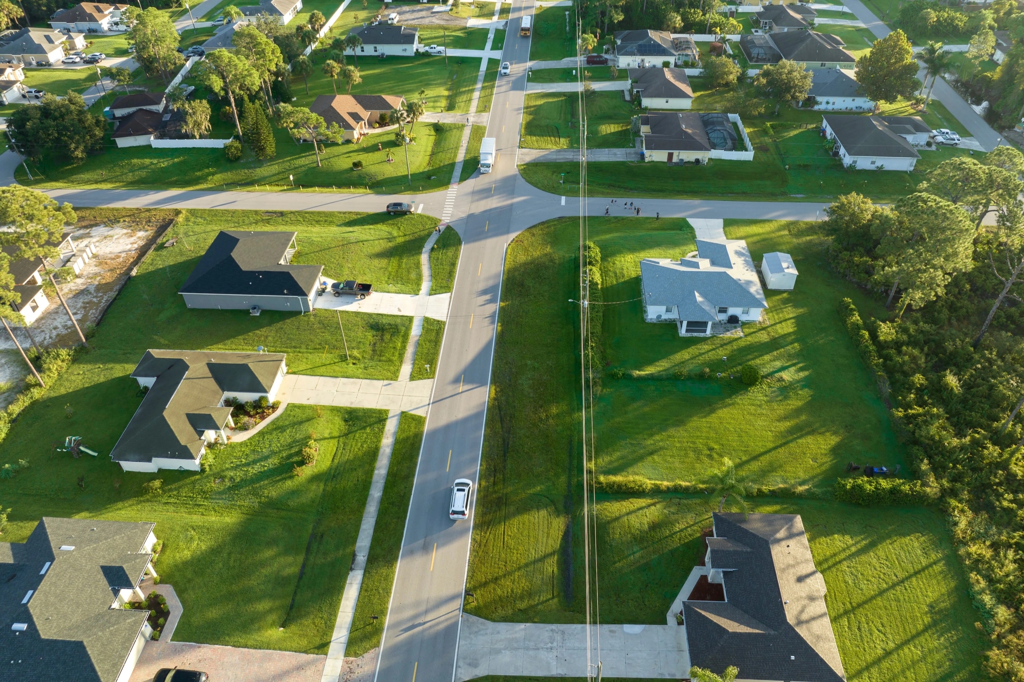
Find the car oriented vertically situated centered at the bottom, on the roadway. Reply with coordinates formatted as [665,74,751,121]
[449,476,472,518]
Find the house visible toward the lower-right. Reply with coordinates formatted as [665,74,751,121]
[681,511,848,682]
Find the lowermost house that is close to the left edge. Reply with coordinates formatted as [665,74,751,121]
[0,517,159,682]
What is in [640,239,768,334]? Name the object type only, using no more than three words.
house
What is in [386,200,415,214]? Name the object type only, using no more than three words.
car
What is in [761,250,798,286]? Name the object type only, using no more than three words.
shed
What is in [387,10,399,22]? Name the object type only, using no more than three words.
vehicle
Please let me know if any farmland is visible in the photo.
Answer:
No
